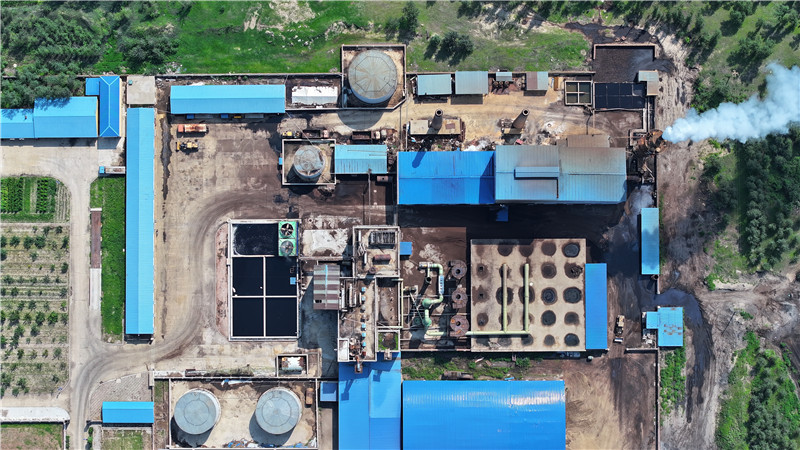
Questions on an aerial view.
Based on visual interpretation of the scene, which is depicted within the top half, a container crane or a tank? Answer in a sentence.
The feature located within the top half is a tank.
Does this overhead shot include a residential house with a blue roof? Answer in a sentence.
Yes, there is a residential house with a blue roof in the image.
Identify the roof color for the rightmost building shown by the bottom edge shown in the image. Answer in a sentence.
The color of the roof on the rightmost building shown by the bottom edge is blue.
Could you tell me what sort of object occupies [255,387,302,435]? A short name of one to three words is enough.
storage tank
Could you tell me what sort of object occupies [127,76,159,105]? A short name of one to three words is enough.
building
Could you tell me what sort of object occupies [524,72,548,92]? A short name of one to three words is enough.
shed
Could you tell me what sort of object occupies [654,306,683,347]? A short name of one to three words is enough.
house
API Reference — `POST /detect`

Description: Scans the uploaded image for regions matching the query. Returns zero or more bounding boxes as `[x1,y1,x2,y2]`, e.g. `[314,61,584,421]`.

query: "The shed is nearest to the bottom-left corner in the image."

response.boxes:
[100,400,157,424]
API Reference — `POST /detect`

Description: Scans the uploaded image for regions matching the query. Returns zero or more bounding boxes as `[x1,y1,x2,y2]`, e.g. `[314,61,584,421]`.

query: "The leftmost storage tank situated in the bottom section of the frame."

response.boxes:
[173,386,223,434]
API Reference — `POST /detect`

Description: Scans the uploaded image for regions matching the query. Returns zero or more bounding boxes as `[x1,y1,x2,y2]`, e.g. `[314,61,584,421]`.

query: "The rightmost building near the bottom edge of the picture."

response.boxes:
[403,379,567,450]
